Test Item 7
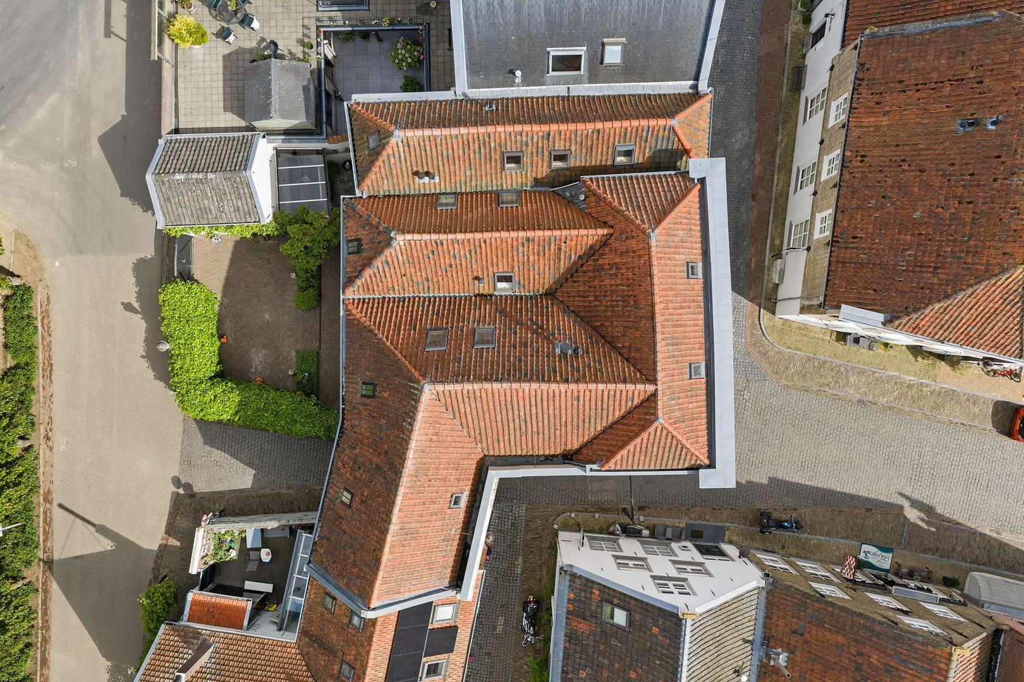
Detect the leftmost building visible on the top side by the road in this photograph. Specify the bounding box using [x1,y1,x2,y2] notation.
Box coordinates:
[145,129,276,229]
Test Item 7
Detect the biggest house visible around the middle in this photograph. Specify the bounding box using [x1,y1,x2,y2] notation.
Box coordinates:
[304,158,736,622]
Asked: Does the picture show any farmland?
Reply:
No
